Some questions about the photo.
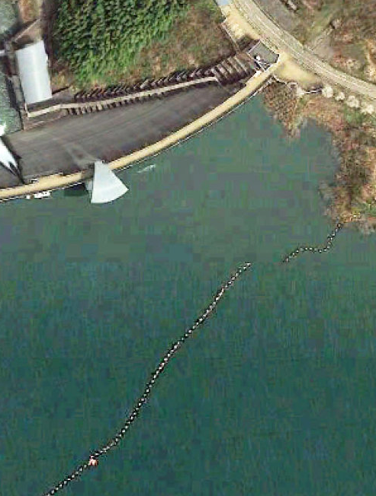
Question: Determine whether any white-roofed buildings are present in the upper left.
Yes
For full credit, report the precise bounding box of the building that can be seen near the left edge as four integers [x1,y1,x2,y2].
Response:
[15,23,72,116]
